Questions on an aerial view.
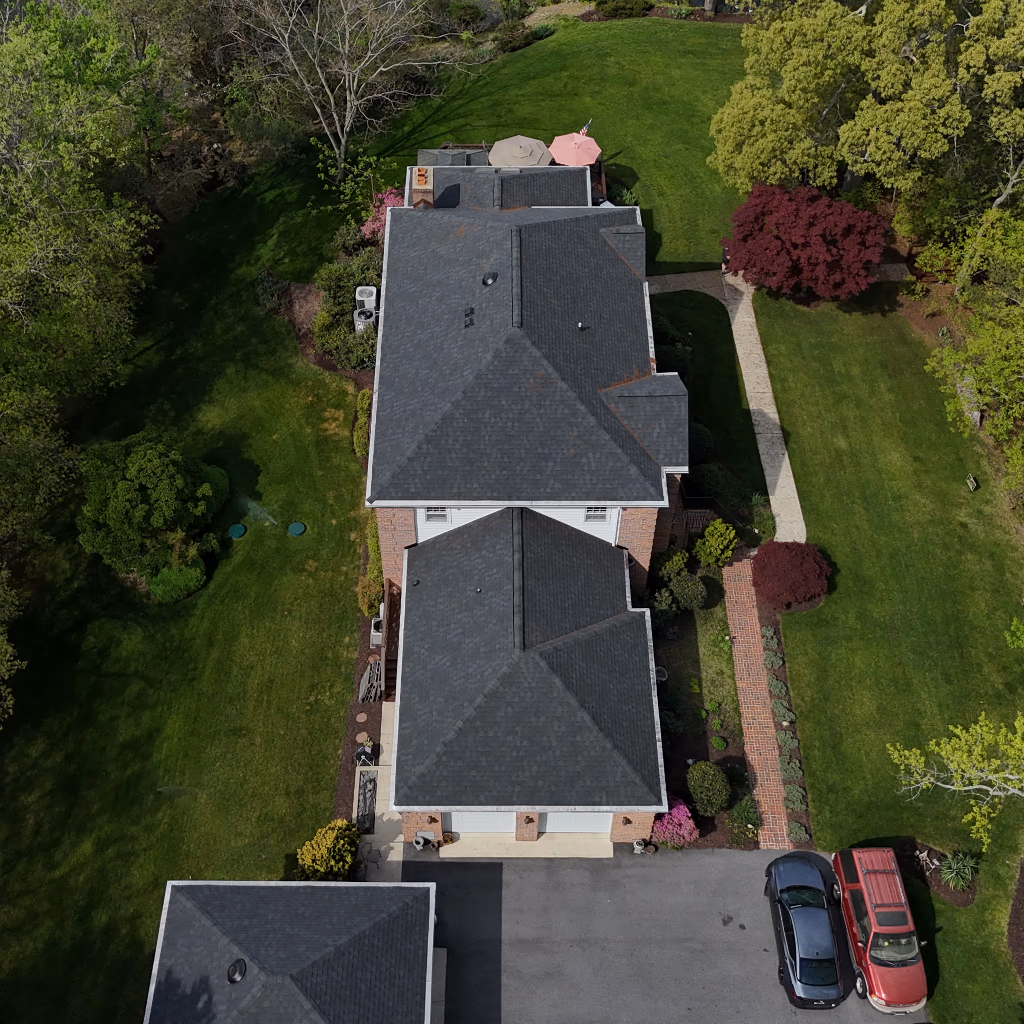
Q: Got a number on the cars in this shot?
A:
two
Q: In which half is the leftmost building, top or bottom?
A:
bottom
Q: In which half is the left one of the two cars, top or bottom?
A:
bottom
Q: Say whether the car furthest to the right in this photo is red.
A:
Yes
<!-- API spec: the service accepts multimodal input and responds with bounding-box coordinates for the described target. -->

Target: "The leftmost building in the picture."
[144,882,440,1024]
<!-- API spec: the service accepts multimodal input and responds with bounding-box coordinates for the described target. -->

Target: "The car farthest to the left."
[766,860,846,1007]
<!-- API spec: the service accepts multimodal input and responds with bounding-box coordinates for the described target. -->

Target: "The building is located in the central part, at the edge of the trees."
[365,163,744,841]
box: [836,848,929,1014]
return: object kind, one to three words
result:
car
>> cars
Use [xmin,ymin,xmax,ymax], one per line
[836,848,929,1014]
[766,860,846,1007]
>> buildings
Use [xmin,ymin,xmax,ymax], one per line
[365,163,744,841]
[144,882,440,1024]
